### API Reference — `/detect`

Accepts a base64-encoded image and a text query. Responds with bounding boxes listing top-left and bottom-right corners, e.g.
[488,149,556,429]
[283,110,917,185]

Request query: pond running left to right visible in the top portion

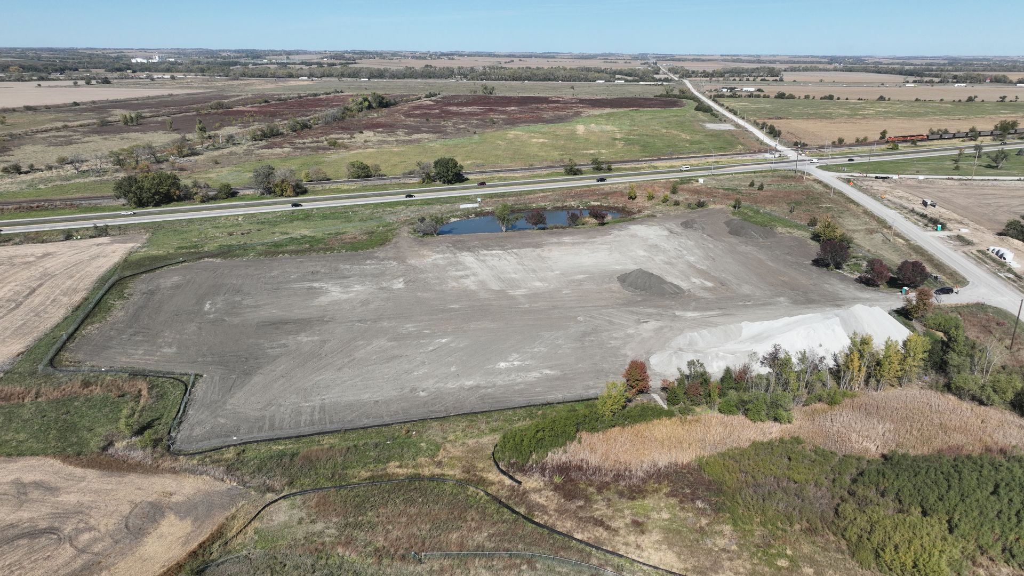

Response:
[439,210,620,236]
